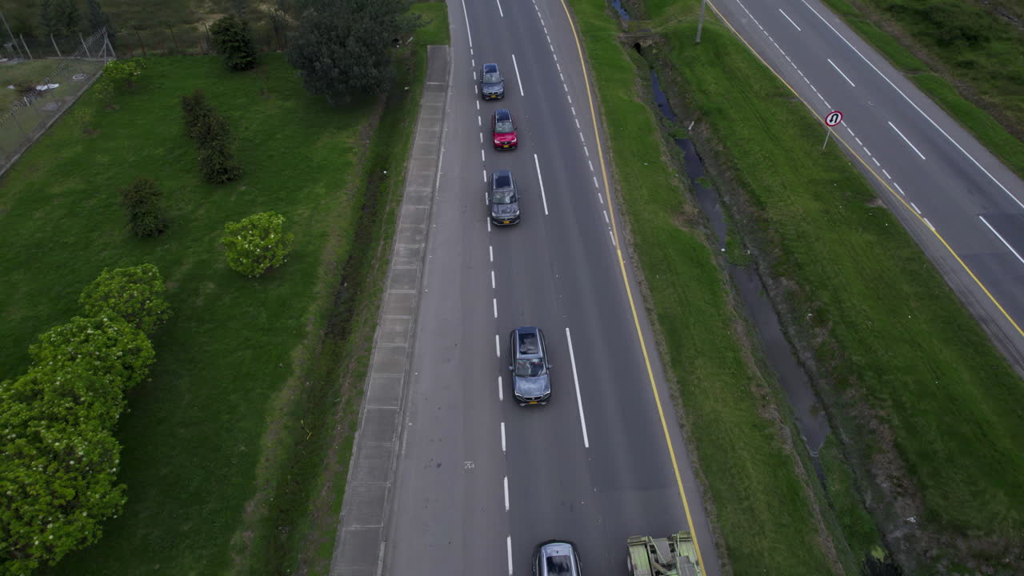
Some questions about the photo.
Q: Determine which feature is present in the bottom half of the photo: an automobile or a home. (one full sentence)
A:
You can see an automobile in the bottom half of the photo.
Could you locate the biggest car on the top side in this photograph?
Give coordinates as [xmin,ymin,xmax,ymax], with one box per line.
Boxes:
[487,170,523,223]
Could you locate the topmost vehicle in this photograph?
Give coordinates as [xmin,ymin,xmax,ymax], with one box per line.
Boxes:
[479,62,506,97]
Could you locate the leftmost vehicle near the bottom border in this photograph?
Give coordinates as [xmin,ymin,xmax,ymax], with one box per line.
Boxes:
[533,540,586,576]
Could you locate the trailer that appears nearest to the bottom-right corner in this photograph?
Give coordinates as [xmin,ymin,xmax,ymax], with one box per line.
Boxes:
[627,531,708,576]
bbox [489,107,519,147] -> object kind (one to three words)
car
